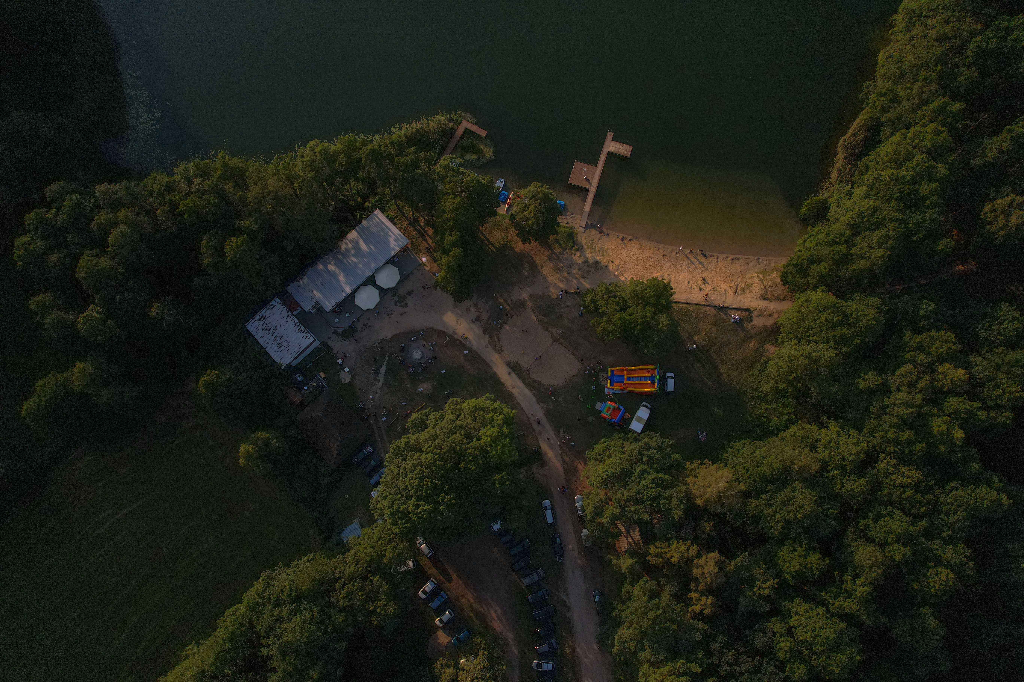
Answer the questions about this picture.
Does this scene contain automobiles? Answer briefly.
Yes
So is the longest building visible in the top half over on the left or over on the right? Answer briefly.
left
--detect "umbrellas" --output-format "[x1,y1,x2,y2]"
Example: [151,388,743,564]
[355,286,380,310]
[375,264,400,288]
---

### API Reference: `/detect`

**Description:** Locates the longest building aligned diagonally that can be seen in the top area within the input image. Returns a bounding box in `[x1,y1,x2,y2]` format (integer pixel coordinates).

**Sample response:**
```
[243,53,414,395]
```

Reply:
[286,209,410,317]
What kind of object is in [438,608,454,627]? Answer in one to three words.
car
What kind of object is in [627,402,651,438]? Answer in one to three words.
truck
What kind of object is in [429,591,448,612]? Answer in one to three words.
car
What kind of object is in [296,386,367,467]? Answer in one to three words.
house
